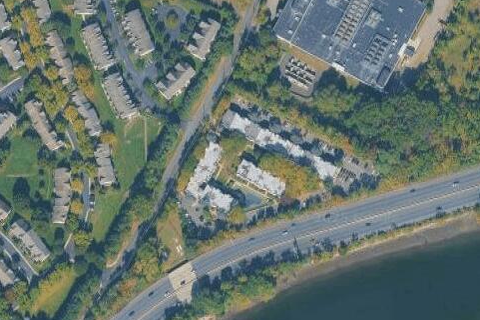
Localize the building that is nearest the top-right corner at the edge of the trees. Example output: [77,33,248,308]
[275,0,428,89]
